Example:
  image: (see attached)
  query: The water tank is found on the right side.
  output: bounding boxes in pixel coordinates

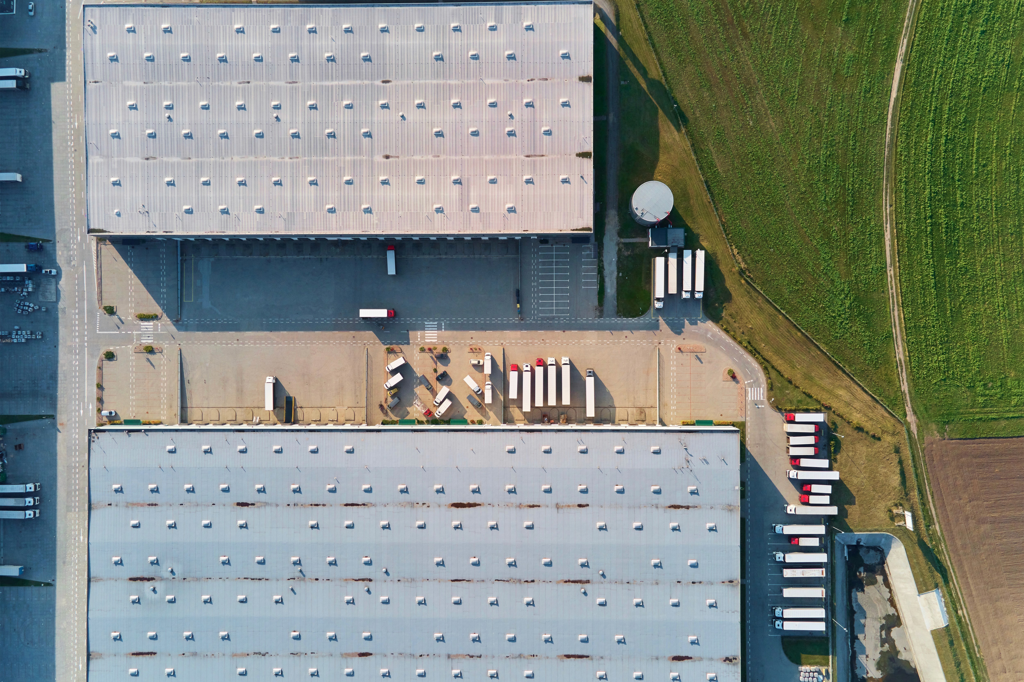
[629,180,673,227]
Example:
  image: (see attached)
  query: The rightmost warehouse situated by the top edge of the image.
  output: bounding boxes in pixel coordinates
[81,0,593,245]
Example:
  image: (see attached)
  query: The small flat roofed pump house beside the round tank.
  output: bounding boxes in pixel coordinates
[648,224,686,247]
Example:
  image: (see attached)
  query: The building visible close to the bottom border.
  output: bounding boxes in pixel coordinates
[86,418,741,682]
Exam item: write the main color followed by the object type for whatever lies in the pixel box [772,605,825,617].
white vehicle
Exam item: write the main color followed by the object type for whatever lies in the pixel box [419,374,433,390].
gray vehicle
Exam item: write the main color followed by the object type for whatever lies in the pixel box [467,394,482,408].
gray vehicle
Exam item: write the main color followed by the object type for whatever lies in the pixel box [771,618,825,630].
white vehicle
